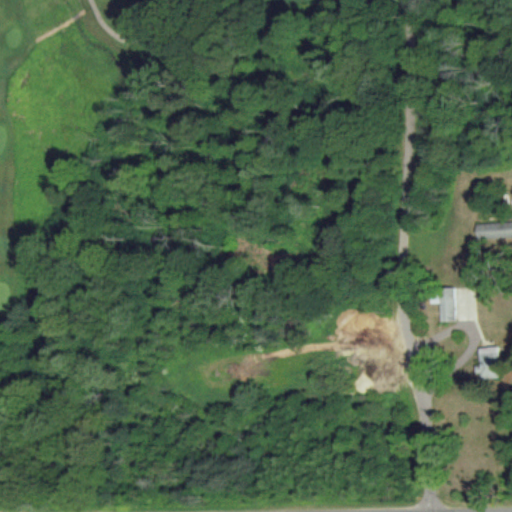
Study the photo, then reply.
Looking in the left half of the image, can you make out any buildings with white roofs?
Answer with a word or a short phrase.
No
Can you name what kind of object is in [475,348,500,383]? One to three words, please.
house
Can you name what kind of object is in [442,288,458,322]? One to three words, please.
house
